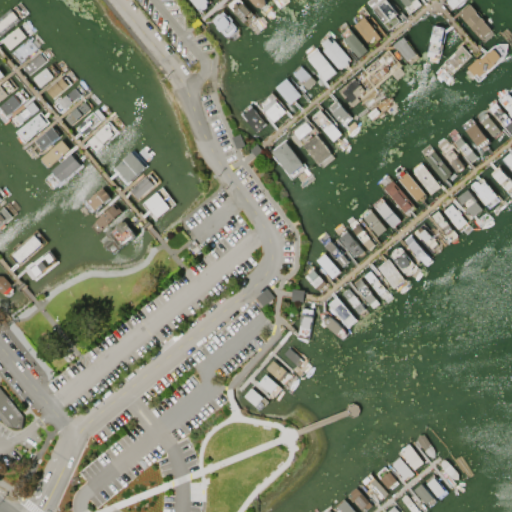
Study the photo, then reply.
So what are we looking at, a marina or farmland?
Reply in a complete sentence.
The picture captures a marina.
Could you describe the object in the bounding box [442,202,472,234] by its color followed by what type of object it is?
white boat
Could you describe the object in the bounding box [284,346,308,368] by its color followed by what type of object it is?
gray boat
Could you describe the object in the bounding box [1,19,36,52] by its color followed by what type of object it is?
white boat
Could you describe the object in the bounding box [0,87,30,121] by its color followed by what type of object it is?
gray boat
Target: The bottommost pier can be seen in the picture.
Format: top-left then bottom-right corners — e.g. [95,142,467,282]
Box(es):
[372,444,458,512]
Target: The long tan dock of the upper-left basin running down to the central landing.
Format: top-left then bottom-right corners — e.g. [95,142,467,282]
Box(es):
[0,46,150,242]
